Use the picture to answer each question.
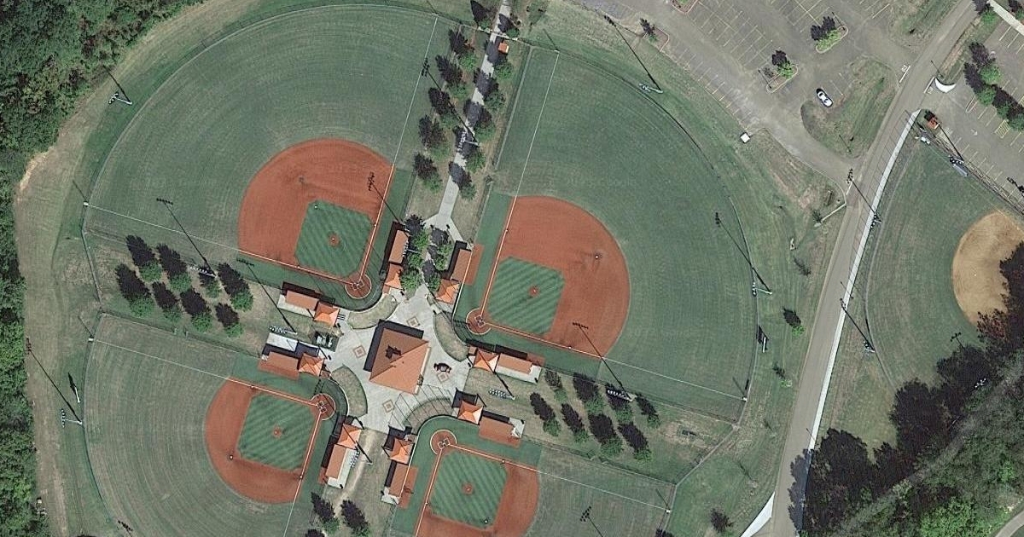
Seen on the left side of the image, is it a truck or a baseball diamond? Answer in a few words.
baseball diamond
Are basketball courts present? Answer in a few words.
No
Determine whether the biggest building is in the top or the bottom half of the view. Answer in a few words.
bottom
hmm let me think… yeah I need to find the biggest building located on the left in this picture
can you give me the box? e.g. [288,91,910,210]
[369,328,430,394]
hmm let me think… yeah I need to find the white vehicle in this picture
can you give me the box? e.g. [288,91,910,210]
[817,89,831,107]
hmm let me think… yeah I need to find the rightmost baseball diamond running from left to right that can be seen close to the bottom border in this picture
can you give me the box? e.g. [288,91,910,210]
[384,412,673,537]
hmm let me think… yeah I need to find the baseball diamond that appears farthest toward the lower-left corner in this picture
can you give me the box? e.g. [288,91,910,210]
[85,310,347,537]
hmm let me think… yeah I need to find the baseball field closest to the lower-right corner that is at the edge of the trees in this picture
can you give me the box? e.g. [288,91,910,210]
[868,140,1024,432]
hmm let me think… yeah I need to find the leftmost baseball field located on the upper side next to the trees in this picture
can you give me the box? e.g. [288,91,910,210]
[84,5,459,312]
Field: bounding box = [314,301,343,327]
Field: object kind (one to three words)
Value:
building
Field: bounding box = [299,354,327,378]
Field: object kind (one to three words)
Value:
building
